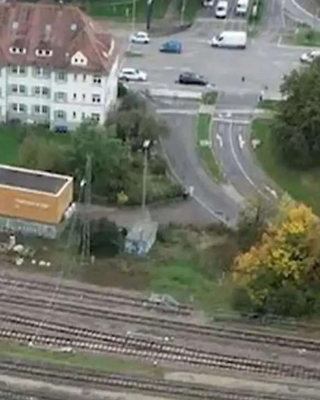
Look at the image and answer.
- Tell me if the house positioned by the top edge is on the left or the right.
left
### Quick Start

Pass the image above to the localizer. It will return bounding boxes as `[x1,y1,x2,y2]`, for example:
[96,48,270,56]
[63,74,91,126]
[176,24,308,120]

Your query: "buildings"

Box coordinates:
[0,166,68,238]
[126,214,165,257]
[0,0,121,129]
